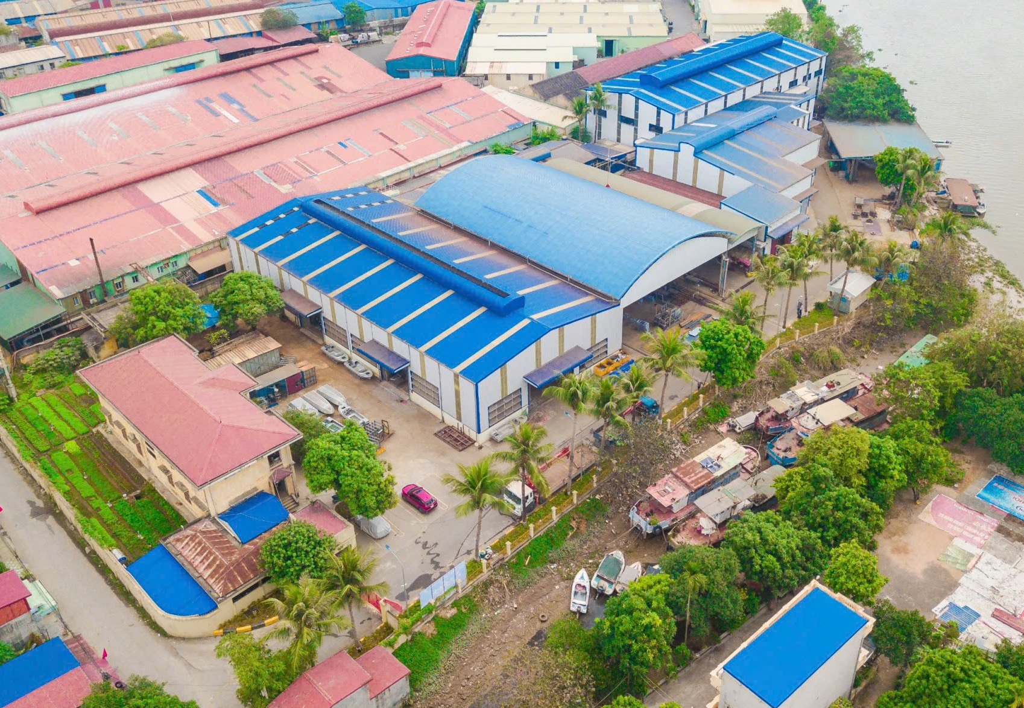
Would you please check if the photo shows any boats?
Yes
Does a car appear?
Yes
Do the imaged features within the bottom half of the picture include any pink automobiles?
Yes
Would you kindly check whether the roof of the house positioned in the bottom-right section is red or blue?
blue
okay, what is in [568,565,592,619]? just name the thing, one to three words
boat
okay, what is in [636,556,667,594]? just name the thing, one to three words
boat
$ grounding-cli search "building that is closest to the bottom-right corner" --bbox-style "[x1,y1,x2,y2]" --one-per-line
[700,569,869,708]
